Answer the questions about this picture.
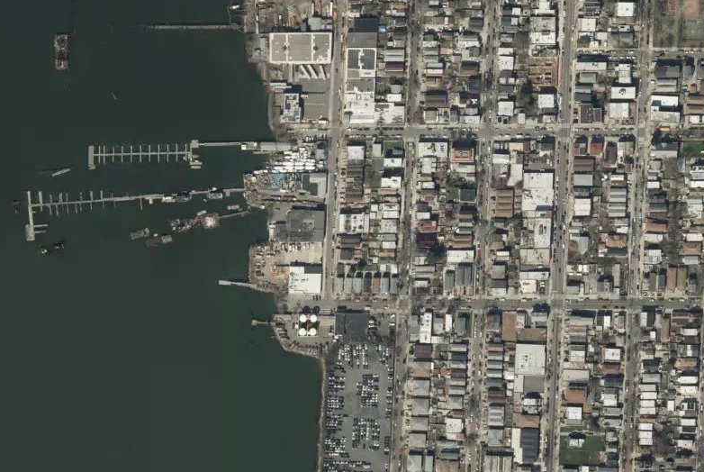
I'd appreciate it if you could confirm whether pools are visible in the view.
No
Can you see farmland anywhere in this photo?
No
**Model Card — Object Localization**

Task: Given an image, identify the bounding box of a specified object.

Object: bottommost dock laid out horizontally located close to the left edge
[26,188,247,241]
